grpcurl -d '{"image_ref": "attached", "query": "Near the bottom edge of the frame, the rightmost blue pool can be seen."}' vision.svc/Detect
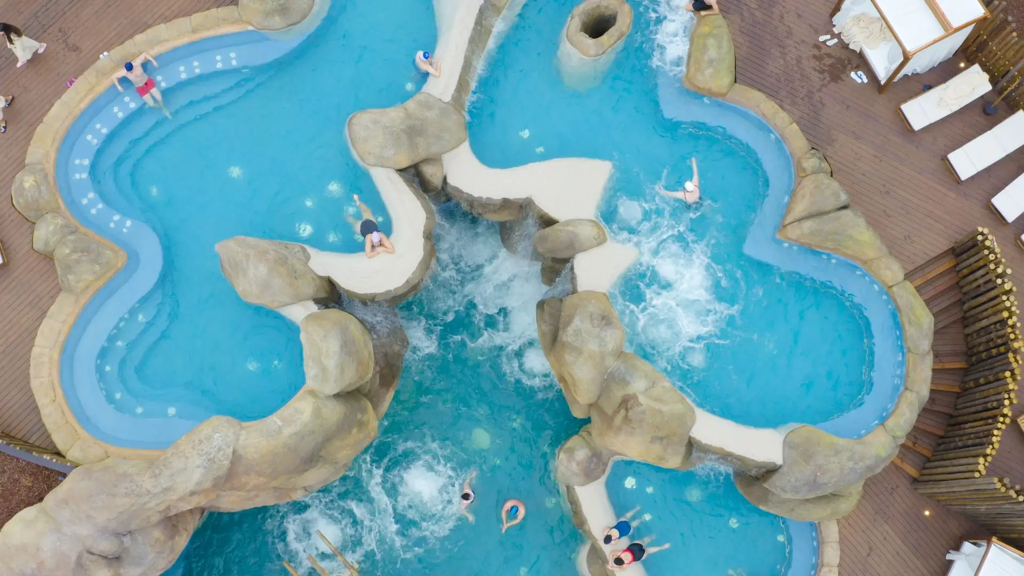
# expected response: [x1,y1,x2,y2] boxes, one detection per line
[607,463,816,576]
